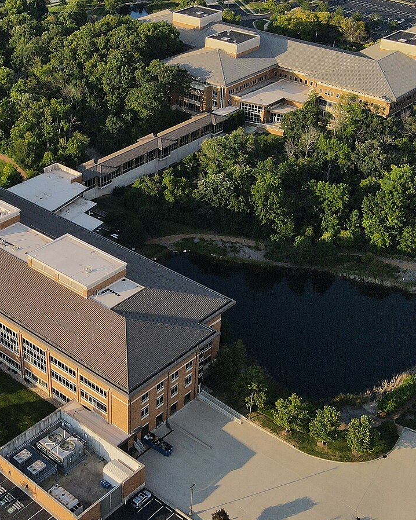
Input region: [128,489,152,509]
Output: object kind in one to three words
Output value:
car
